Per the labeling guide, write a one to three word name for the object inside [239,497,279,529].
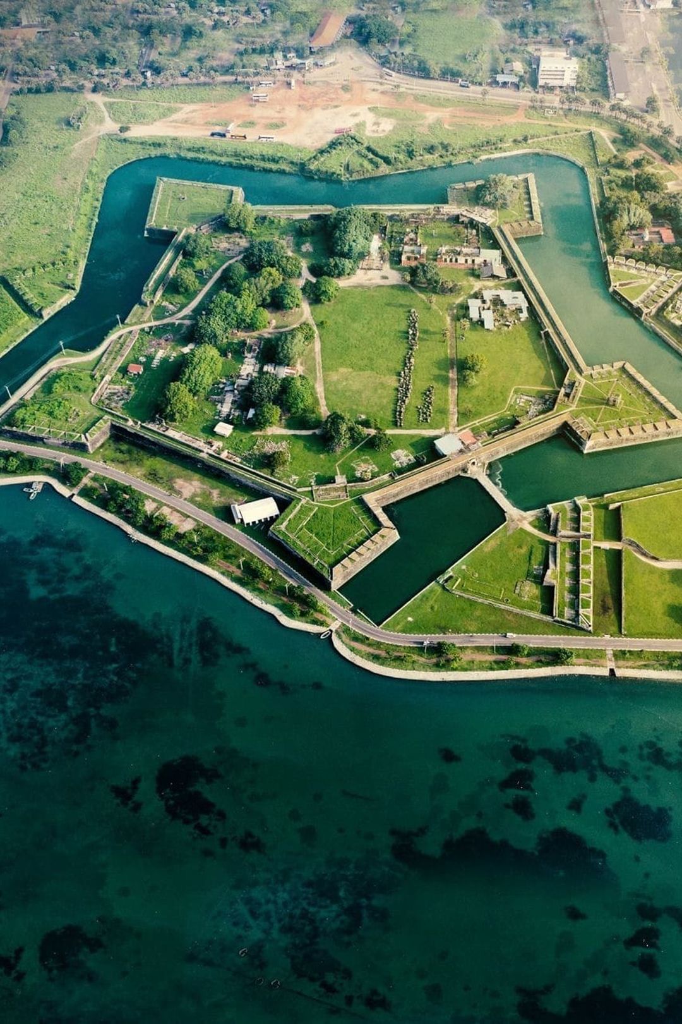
shed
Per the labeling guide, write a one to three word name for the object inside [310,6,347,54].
building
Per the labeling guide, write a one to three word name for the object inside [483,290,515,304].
shed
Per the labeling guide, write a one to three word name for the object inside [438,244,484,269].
house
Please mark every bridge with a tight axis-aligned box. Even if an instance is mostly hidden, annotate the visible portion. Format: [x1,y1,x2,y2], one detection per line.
[464,469,529,524]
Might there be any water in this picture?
Yes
